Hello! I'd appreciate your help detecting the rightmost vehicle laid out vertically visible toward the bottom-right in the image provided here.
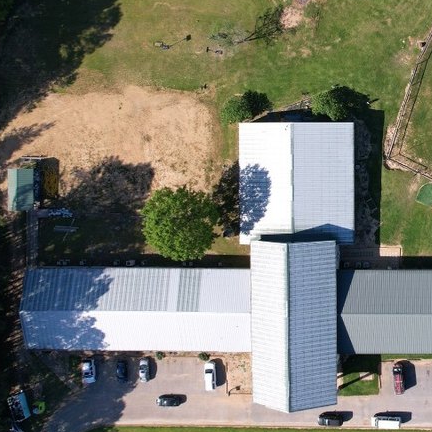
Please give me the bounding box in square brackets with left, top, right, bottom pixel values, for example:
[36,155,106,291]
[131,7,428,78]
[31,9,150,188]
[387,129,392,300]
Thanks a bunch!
[393,363,407,397]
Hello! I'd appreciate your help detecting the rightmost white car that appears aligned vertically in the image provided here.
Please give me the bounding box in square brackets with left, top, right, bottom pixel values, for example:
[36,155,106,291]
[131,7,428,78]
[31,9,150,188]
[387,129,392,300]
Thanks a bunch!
[202,363,217,396]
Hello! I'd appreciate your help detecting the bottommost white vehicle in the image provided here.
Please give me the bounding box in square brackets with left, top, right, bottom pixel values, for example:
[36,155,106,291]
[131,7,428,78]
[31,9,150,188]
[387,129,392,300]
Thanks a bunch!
[372,415,403,431]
